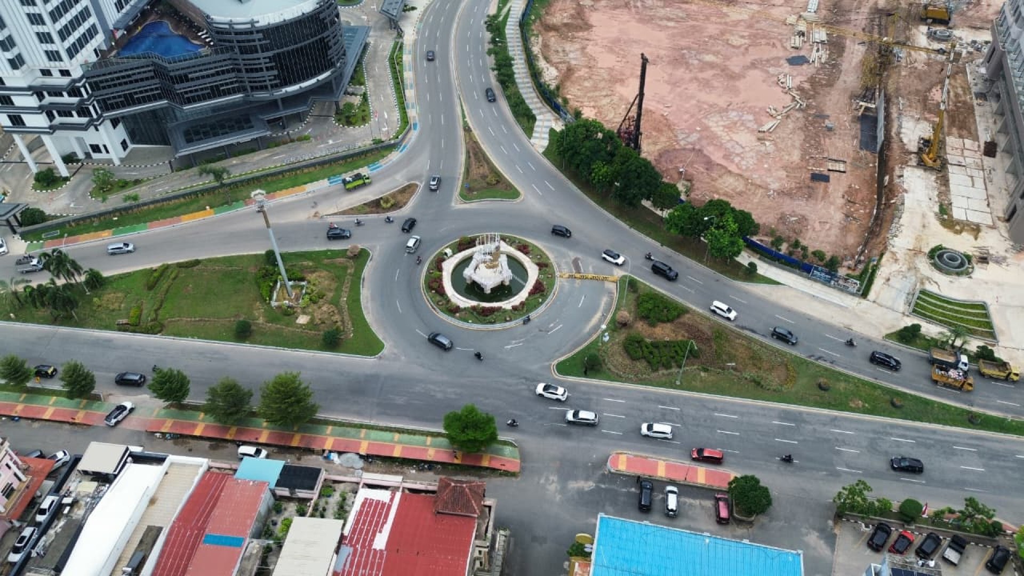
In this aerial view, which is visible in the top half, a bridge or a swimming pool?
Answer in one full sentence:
Visible in the top half is a swimming pool.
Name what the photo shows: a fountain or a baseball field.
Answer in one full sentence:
There is a fountain in the scene.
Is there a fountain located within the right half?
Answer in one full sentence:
Yes, a fountain is visible within the right half.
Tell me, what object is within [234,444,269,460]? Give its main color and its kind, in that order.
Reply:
white car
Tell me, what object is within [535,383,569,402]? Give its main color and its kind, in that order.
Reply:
white car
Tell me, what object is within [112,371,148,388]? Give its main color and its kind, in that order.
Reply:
black car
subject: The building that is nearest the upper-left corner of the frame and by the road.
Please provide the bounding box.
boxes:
[0,0,373,177]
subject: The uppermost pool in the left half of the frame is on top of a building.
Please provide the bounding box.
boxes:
[118,20,207,58]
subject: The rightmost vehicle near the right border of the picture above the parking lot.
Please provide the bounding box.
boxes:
[975,357,1024,386]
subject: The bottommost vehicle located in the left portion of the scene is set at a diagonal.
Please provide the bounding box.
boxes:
[3,523,42,566]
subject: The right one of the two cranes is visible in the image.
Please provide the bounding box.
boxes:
[907,43,959,169]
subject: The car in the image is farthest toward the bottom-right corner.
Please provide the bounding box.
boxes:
[980,542,1011,576]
